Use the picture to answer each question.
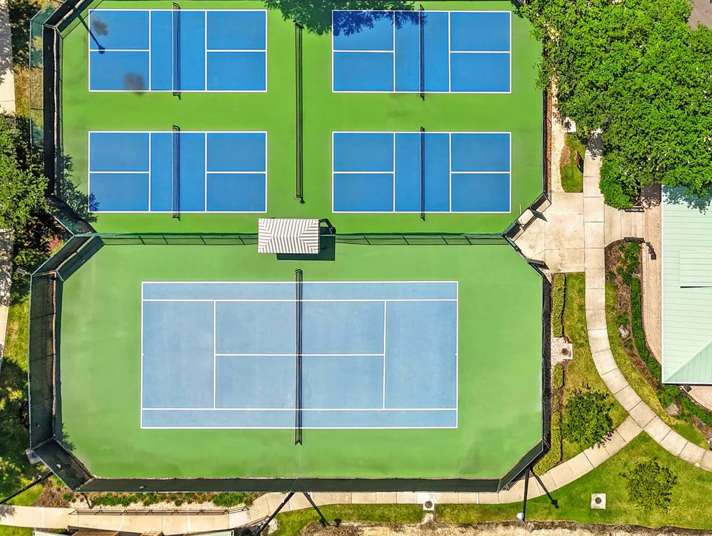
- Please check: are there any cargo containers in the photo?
No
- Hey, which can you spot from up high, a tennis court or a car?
tennis court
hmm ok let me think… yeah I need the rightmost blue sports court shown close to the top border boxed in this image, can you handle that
[333,10,510,93]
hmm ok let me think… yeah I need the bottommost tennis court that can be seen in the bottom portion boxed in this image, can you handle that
[58,239,543,476]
